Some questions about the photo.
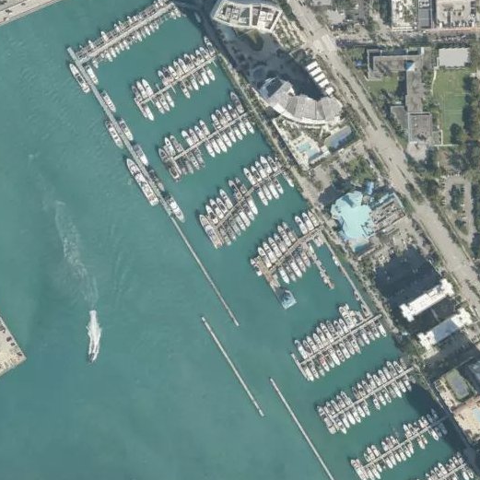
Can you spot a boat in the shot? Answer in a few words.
Yes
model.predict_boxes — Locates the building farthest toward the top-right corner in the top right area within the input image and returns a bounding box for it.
[436,0,475,28]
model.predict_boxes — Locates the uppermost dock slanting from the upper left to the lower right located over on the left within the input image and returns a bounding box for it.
[67,46,173,217]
